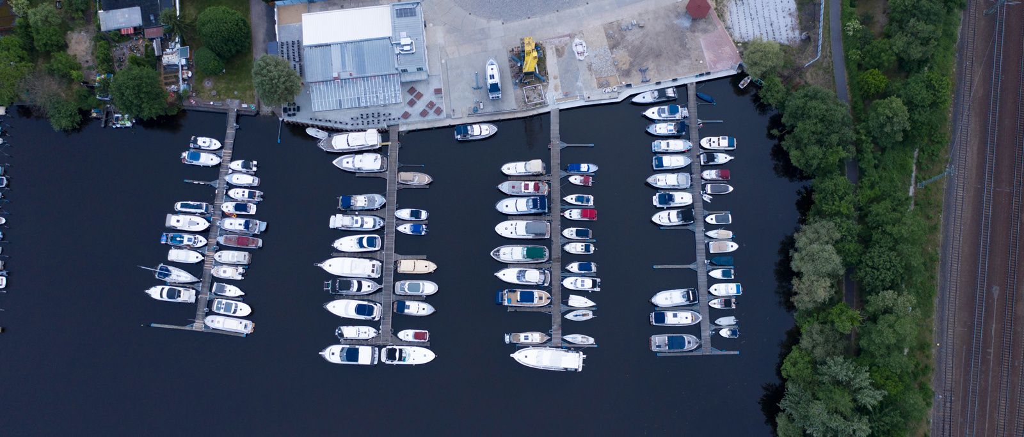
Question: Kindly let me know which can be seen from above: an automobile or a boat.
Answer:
boat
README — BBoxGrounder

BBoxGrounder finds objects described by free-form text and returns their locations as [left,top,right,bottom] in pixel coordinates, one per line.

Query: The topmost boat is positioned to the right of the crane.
[573,40,586,62]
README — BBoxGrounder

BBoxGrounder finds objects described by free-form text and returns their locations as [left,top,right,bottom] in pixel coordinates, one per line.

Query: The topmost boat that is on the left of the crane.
[486,58,501,102]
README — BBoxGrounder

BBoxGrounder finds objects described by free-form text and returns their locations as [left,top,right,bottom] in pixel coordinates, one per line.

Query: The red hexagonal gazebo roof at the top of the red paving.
[686,0,709,21]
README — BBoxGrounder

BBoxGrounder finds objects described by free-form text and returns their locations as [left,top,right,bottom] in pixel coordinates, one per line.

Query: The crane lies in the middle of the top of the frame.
[509,35,548,92]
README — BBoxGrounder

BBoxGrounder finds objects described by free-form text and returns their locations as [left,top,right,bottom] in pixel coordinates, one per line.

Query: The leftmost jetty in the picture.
[151,112,259,337]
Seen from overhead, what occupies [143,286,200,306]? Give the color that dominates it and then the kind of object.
white boat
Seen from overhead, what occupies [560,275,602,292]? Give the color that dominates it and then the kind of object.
white boat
